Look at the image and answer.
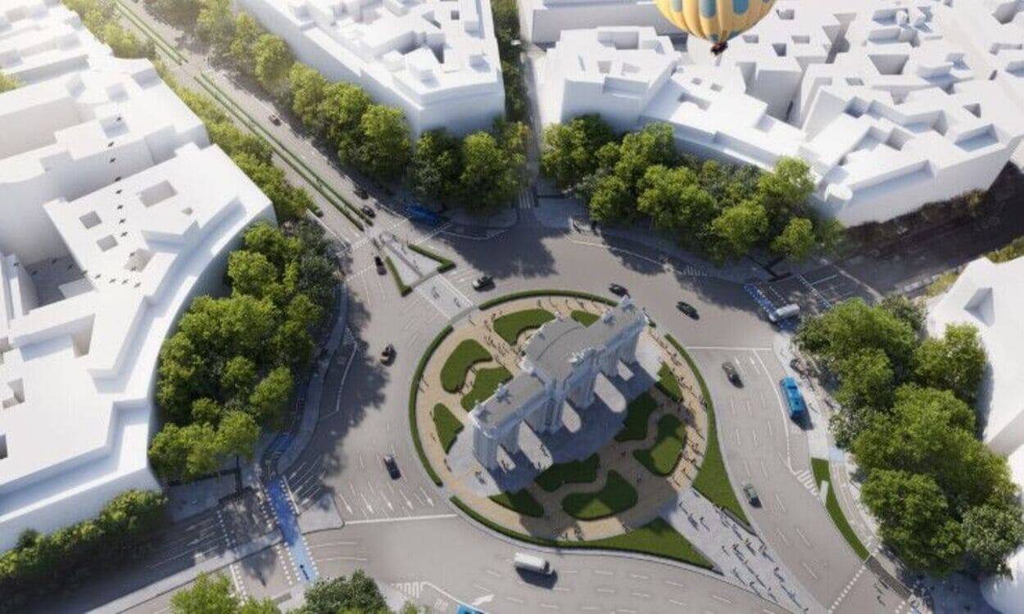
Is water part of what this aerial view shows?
No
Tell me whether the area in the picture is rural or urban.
urban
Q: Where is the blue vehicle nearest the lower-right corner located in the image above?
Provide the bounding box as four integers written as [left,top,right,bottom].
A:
[782,370,808,414]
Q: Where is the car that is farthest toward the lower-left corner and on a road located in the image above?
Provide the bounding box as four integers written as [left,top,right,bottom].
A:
[384,454,400,475]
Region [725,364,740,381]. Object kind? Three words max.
car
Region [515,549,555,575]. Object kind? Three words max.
truck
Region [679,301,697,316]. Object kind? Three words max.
car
